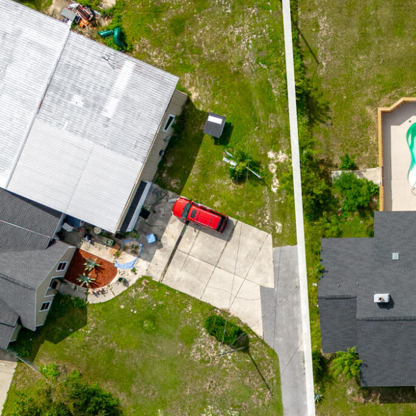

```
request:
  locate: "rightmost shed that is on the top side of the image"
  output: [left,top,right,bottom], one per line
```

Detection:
[203,113,227,138]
